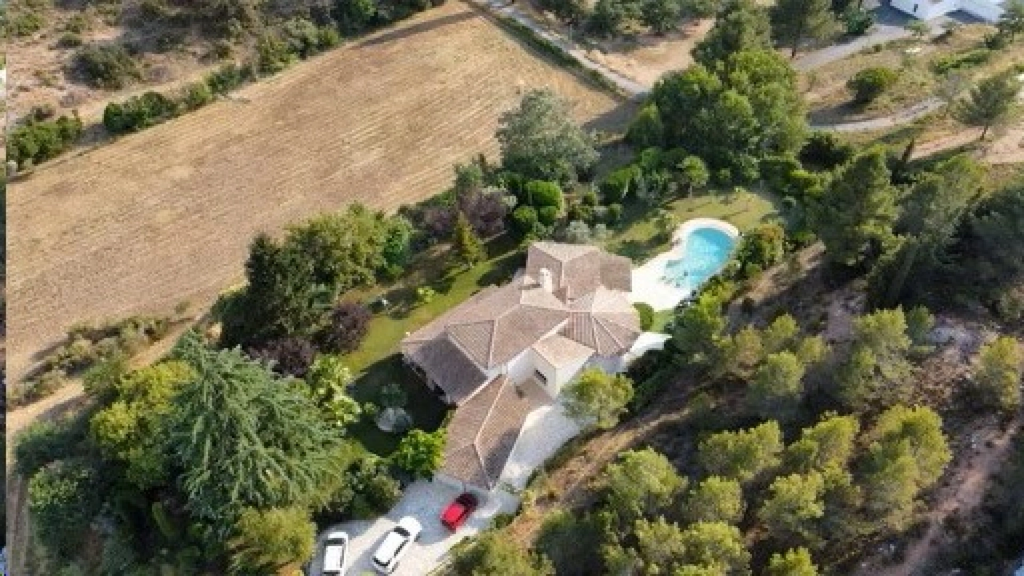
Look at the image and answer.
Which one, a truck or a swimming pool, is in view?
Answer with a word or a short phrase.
swimming pool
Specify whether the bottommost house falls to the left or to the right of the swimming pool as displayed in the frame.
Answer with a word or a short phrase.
to its left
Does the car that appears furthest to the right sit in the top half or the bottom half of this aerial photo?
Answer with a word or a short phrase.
bottom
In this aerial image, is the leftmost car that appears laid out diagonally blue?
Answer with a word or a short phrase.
No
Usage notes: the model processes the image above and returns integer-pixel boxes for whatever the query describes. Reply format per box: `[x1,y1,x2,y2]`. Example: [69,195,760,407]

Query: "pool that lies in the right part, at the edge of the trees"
[659,223,738,292]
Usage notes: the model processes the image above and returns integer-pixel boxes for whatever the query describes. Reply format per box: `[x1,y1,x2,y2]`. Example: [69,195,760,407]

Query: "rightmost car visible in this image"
[435,487,484,538]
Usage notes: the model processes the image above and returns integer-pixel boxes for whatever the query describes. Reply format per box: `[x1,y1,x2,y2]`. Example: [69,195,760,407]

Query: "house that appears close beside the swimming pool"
[400,242,643,498]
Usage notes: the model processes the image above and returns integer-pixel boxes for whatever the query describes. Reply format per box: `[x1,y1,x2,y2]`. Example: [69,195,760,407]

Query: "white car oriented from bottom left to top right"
[366,511,428,576]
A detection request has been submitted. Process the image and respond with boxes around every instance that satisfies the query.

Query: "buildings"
[400,242,643,498]
[892,0,1024,21]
